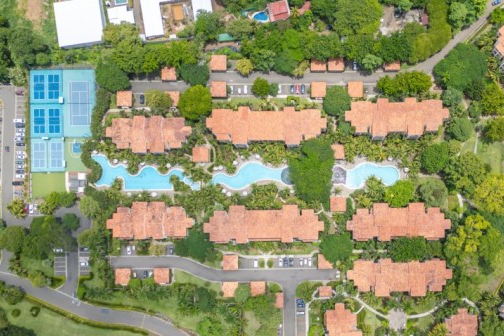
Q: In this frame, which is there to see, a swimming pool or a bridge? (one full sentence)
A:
The one in the frame is a swimming pool.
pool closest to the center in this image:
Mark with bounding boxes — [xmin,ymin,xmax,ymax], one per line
[213,161,296,190]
